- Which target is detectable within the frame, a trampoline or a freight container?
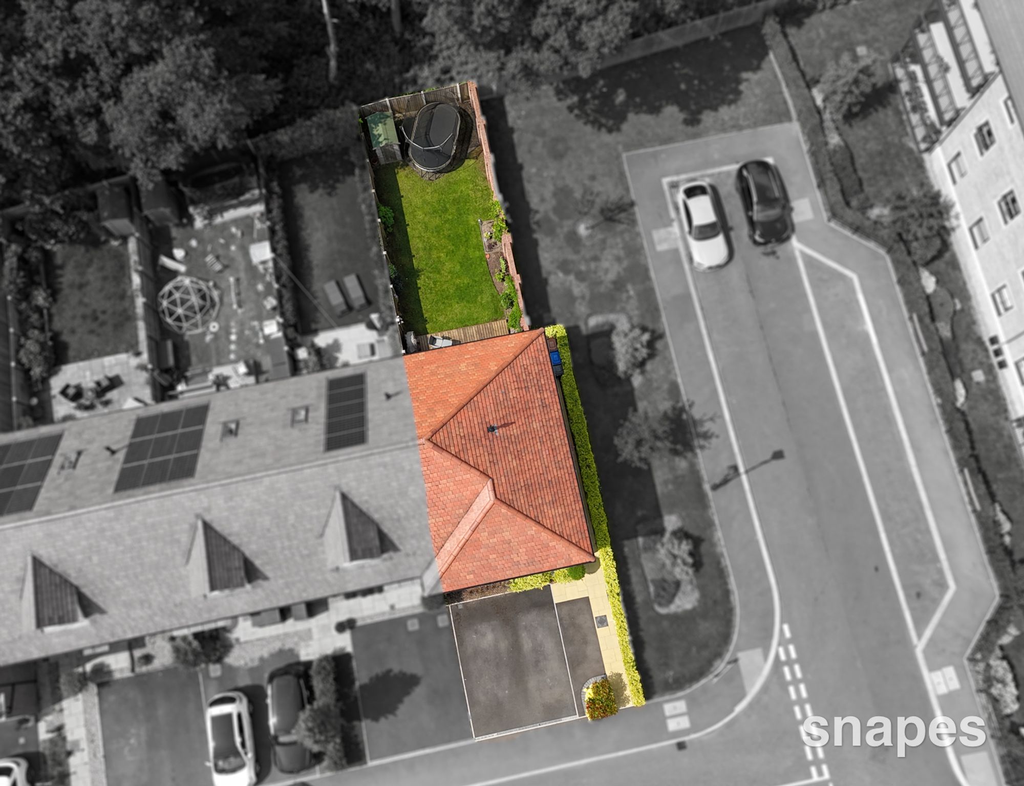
trampoline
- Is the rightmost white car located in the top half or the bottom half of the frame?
top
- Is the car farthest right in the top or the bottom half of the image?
top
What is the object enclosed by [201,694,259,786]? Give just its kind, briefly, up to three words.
car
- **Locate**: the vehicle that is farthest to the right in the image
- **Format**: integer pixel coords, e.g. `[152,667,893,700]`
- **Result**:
[741,158,796,249]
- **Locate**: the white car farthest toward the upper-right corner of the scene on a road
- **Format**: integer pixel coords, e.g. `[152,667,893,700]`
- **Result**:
[678,178,732,272]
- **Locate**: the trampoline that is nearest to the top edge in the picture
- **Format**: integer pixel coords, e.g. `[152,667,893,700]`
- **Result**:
[399,105,464,178]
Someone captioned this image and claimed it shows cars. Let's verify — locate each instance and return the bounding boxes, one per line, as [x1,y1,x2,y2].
[741,158,796,249]
[0,759,35,786]
[201,694,259,786]
[263,665,321,773]
[678,178,732,272]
